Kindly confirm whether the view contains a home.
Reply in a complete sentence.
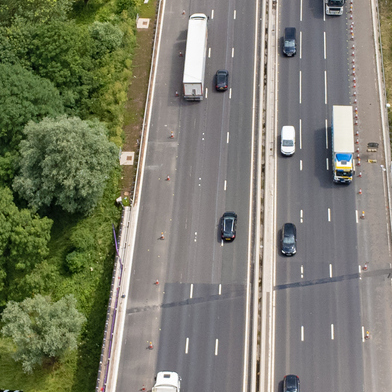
No, the picture doesn't show any home.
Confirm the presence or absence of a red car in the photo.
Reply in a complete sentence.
No, no red car is visible in the view.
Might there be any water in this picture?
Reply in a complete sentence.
No, the scene doesn't show any water.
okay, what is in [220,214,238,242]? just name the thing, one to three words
car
